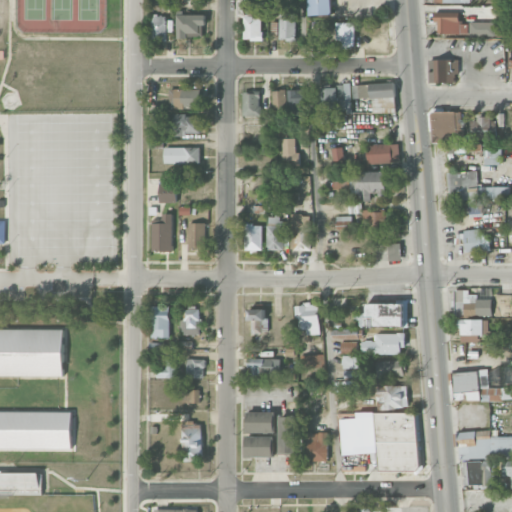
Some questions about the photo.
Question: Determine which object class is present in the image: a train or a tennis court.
tennis court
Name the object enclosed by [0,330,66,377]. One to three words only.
building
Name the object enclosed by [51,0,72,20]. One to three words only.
tennis court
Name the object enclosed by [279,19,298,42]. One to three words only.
house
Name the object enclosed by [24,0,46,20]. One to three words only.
tennis court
